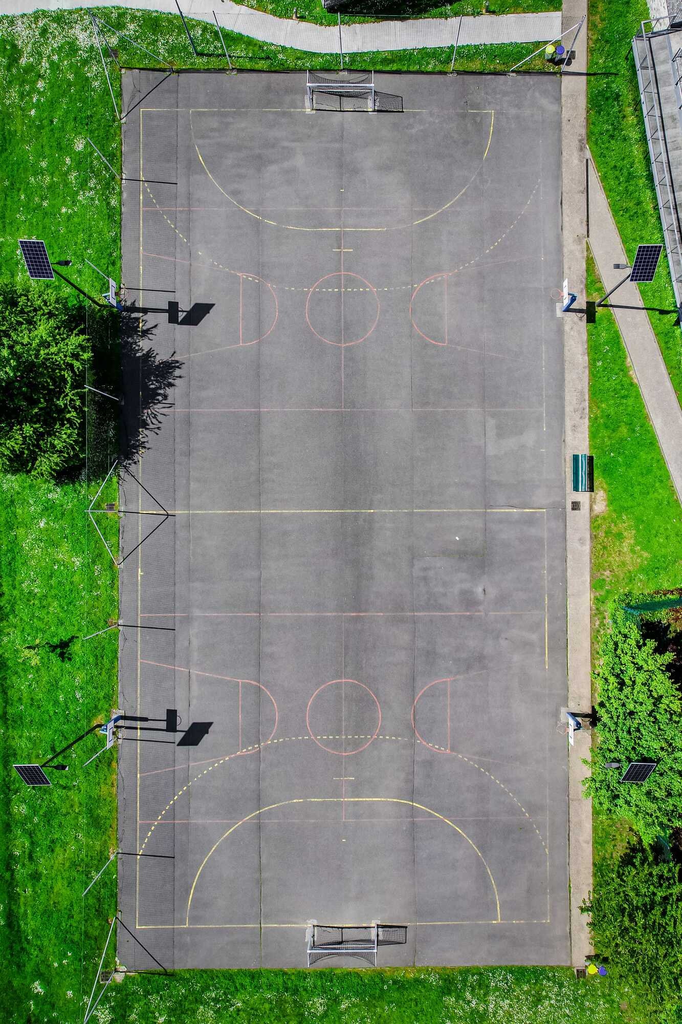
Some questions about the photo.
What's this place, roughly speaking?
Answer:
sports ground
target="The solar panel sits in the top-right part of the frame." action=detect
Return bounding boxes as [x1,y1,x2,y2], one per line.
[628,240,665,280]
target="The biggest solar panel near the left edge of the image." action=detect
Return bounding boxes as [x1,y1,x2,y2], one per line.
[17,239,56,278]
